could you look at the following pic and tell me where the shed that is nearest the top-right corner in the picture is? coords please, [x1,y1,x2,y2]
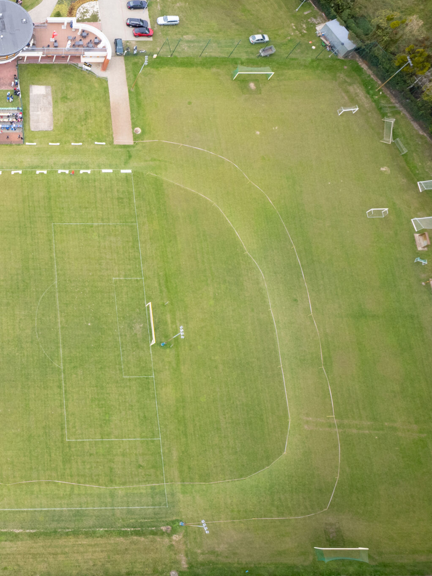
[316,22,358,62]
